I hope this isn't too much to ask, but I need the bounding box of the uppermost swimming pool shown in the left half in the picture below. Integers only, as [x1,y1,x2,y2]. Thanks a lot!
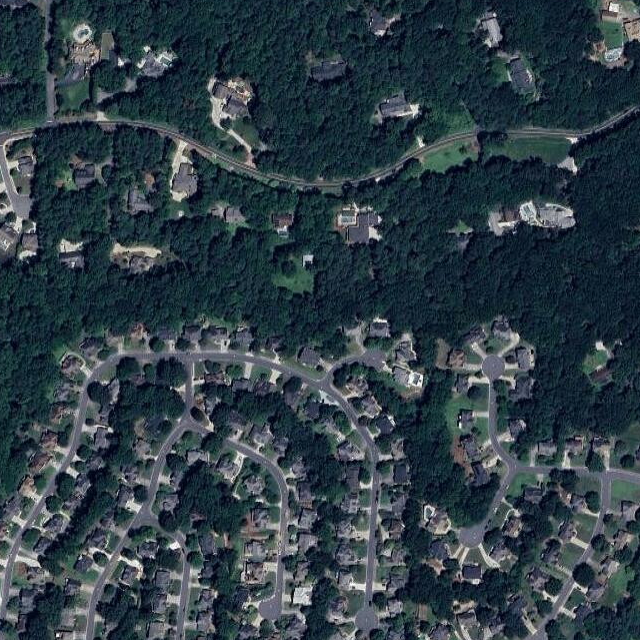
[74,23,92,42]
